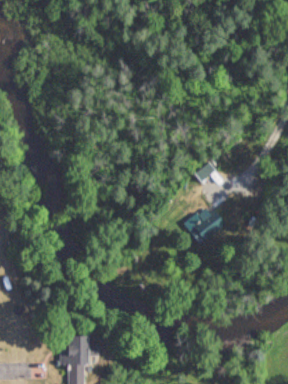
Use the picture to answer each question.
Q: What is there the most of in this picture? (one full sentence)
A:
What you mostly see from above here is trees.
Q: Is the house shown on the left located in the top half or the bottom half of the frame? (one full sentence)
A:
It is in the bottom half that the house shown on the left appears.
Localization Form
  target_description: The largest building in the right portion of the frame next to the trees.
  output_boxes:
[184,204,225,238]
